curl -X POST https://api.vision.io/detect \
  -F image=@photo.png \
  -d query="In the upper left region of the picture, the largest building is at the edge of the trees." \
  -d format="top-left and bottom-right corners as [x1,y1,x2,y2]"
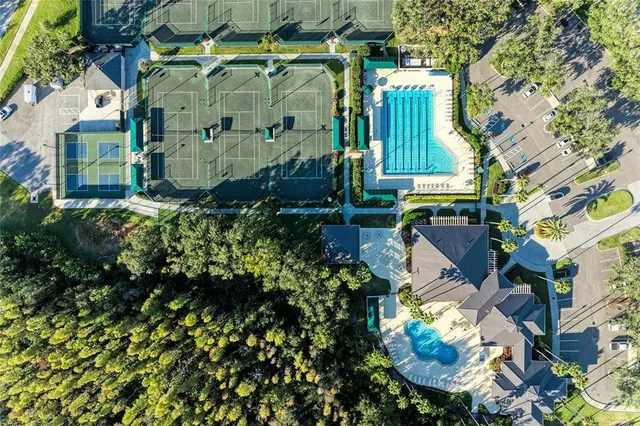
[85,52,129,92]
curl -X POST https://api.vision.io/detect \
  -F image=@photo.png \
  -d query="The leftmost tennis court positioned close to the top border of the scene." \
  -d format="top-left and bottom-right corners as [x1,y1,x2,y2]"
[84,0,144,42]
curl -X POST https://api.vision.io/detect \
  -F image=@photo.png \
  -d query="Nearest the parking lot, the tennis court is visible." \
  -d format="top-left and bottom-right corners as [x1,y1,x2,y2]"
[332,0,395,42]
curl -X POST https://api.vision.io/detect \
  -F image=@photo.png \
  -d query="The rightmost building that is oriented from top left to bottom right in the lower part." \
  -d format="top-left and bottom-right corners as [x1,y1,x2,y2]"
[411,225,568,426]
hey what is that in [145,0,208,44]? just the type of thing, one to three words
tennis court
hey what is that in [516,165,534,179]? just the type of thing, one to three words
vehicle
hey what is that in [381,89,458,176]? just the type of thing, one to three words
swimming pool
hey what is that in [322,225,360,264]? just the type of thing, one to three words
building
